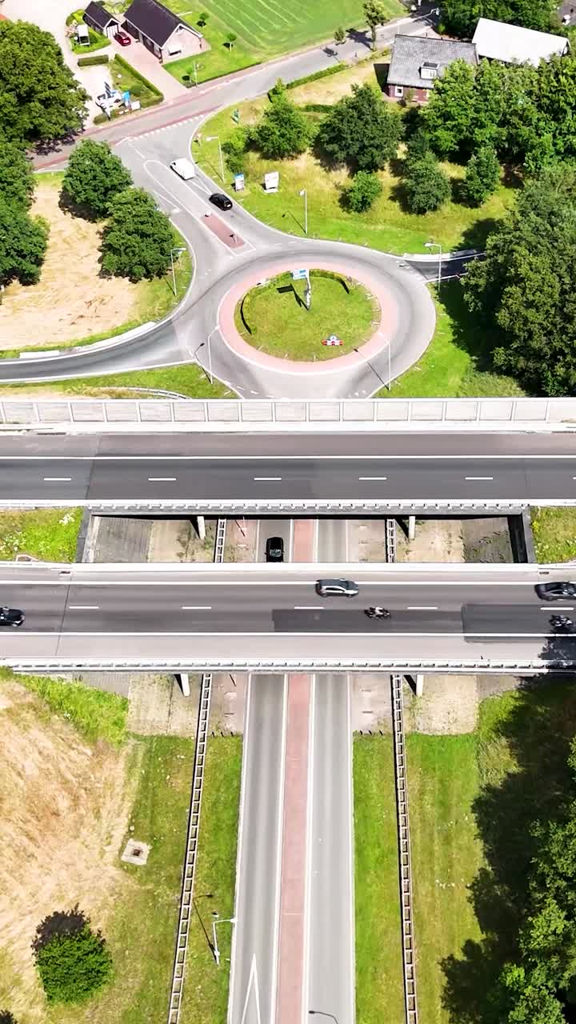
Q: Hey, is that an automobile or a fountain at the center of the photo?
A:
automobile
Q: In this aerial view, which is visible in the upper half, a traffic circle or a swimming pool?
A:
traffic circle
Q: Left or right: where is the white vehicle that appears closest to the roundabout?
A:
left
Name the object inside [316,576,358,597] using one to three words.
car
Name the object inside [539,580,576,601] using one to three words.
car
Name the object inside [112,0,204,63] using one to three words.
house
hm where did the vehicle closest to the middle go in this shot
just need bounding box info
[265,536,284,561]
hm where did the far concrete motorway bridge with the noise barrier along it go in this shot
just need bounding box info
[0,423,576,539]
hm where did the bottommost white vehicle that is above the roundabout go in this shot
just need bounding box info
[170,155,194,177]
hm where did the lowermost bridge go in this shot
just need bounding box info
[0,561,576,699]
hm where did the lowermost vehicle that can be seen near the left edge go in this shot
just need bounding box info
[0,604,25,625]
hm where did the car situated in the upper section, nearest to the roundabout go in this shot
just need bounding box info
[211,192,232,209]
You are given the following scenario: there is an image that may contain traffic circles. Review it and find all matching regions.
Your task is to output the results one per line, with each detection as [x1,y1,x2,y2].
[180,242,437,397]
